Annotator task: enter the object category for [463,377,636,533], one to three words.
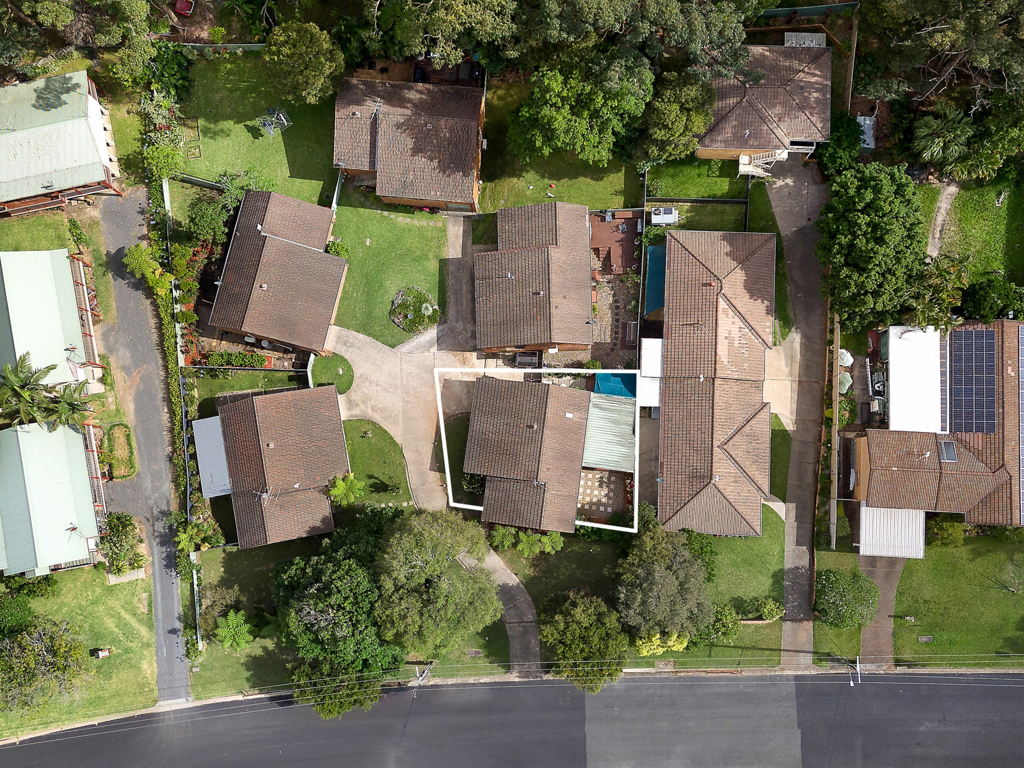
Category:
house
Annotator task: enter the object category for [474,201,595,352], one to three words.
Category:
house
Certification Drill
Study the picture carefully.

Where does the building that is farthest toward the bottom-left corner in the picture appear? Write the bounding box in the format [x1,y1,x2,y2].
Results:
[0,421,121,580]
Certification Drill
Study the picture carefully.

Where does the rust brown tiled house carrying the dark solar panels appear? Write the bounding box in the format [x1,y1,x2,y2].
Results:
[849,319,1024,559]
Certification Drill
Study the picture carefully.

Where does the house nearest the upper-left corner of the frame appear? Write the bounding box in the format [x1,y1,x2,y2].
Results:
[0,69,126,225]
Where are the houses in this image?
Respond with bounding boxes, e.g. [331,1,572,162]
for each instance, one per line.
[849,319,1024,559]
[192,385,352,549]
[0,69,126,225]
[474,201,595,352]
[638,230,777,537]
[463,377,636,533]
[0,421,121,580]
[0,248,113,388]
[333,76,486,212]
[208,191,348,352]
